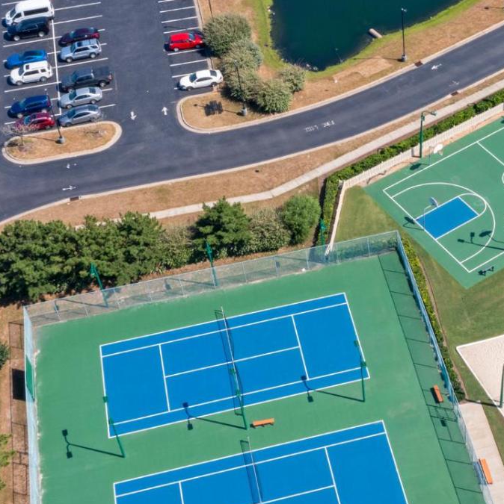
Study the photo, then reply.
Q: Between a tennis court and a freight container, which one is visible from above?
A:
tennis court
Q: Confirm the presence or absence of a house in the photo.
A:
No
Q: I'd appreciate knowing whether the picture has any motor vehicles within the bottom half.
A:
No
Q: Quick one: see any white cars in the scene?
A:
Yes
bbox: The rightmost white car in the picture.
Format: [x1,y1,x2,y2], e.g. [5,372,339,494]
[178,70,222,91]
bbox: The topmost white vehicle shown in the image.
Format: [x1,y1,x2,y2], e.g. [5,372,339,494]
[5,0,56,25]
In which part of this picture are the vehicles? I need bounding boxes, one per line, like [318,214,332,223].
[57,104,102,127]
[57,37,102,62]
[6,47,48,67]
[14,109,56,132]
[7,17,49,40]
[58,87,103,108]
[59,66,111,92]
[5,0,56,25]
[8,59,54,86]
[178,70,222,91]
[10,95,52,118]
[56,25,99,45]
